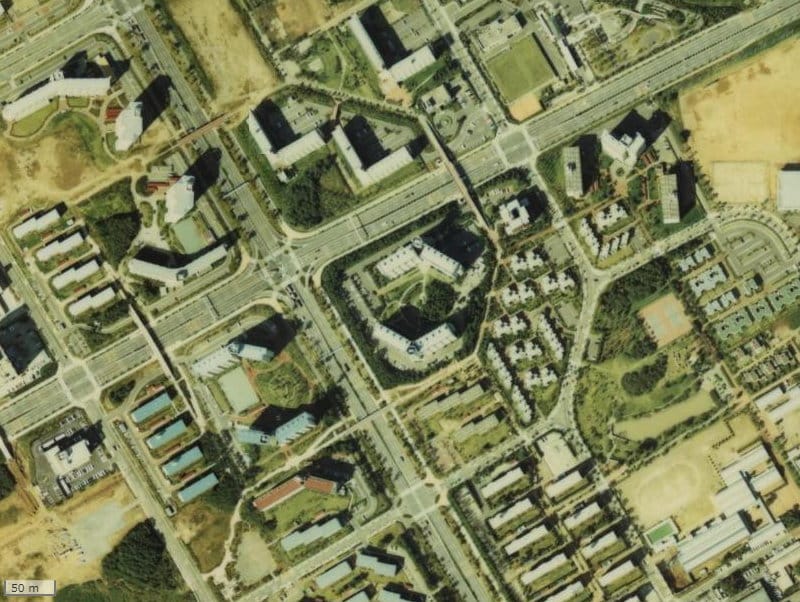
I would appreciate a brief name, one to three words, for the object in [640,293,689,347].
tennis court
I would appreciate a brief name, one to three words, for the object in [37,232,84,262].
building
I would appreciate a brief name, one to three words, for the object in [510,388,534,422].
house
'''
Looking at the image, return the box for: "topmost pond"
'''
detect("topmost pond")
[611,388,717,440]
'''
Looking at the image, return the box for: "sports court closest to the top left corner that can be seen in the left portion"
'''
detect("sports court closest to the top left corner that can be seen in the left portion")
[173,213,209,254]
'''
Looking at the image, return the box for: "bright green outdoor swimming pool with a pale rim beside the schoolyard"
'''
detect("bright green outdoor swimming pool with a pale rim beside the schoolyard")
[644,518,679,546]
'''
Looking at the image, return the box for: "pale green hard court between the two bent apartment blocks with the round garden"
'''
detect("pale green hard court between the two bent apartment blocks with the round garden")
[219,366,259,413]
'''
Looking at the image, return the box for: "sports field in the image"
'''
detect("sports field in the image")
[486,34,555,104]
